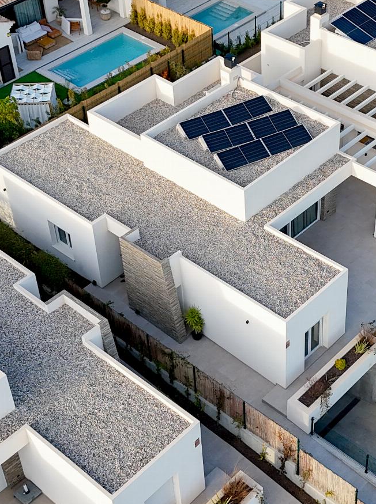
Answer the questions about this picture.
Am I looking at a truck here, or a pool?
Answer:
pool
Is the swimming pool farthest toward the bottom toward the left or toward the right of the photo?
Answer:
left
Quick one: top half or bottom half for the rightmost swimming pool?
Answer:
top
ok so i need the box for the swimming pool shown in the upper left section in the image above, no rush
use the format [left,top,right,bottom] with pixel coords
[33,26,167,91]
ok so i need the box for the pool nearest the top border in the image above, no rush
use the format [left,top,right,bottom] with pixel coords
[183,0,265,41]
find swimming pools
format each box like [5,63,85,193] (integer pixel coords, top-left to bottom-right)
[183,0,265,41]
[33,26,167,91]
